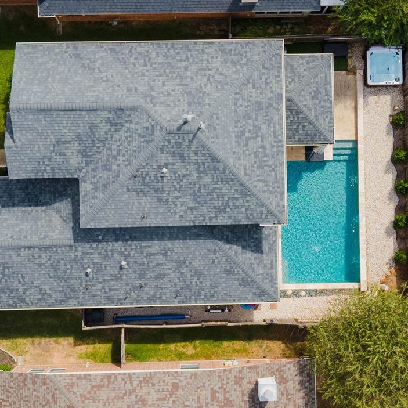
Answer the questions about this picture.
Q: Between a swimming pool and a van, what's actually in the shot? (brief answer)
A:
swimming pool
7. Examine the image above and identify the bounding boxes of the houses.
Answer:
[0,0,323,27]
[0,37,336,310]
[0,358,318,408]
